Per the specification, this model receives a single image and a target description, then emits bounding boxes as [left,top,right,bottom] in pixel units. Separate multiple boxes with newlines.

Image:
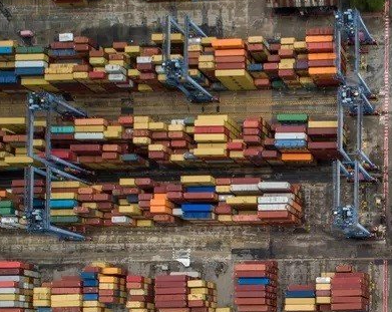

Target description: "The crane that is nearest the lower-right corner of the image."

[333,158,371,239]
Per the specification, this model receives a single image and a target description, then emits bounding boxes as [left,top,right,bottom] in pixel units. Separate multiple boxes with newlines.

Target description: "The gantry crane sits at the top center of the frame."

[164,11,215,99]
